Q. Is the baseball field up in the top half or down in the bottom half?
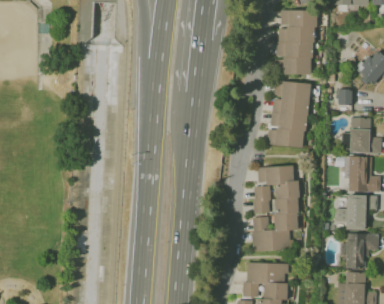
top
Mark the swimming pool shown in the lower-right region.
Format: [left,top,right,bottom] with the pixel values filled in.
[324,239,338,267]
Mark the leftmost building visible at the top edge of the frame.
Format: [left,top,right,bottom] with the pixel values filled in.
[278,10,317,74]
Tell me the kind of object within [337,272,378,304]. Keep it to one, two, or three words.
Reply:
house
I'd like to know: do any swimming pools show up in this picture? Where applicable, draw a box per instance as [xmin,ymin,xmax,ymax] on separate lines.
[331,118,348,136]
[324,239,338,267]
